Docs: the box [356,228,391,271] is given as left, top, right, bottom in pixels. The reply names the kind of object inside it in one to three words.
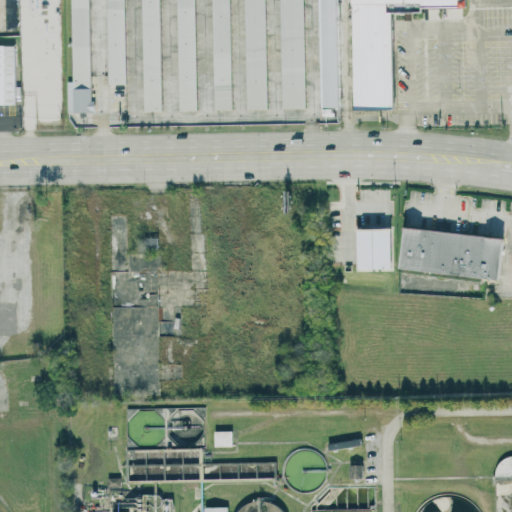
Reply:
building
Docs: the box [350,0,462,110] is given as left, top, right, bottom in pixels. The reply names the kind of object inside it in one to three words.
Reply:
building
